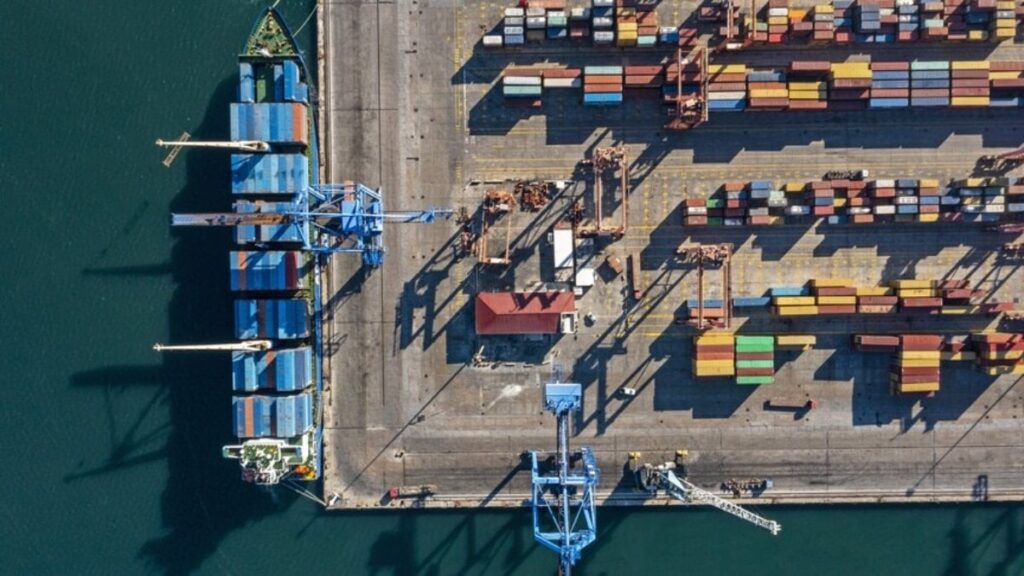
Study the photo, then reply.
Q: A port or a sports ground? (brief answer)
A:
port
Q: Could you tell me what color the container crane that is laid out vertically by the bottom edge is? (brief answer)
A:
blue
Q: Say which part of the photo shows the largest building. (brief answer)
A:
center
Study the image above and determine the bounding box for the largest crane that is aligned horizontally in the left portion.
[176,182,448,270]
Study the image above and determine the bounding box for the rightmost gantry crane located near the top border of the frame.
[709,0,756,62]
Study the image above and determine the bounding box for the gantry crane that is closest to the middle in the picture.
[477,194,515,269]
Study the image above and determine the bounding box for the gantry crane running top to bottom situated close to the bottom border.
[521,362,600,576]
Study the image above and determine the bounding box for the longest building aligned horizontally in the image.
[475,291,578,336]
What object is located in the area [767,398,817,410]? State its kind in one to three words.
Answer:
vehicle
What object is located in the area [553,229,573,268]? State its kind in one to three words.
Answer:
shed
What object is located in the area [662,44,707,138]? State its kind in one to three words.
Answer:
container crane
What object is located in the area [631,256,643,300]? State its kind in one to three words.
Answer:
vehicle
